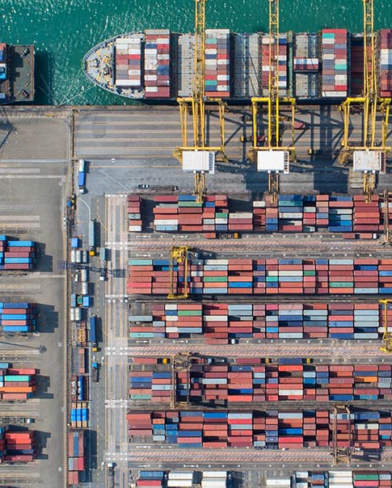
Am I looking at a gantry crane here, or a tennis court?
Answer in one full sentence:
This aerial view contains a gantry crane.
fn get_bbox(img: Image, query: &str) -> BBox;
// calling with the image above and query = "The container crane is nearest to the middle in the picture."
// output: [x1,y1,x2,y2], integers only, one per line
[168,245,194,300]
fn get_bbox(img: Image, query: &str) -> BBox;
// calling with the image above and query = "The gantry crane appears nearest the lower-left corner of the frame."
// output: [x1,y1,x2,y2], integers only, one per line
[169,352,197,411]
